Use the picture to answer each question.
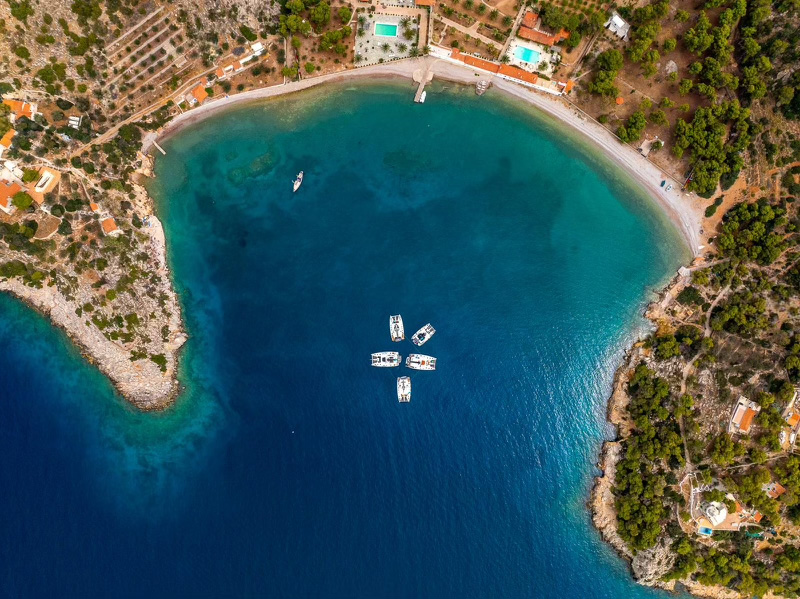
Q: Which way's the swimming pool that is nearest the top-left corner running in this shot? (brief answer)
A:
diagonally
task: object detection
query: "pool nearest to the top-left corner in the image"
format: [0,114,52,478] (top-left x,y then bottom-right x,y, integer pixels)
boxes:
[35,169,55,191]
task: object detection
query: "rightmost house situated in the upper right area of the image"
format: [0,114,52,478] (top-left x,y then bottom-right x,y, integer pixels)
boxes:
[600,11,634,43]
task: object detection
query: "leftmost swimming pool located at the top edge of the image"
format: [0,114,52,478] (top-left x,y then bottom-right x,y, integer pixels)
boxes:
[373,21,399,38]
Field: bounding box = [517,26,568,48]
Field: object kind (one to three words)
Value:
house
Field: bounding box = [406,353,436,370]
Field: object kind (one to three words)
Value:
boat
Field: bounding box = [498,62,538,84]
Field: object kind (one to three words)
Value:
building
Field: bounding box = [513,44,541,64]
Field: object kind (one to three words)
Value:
swimming pool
